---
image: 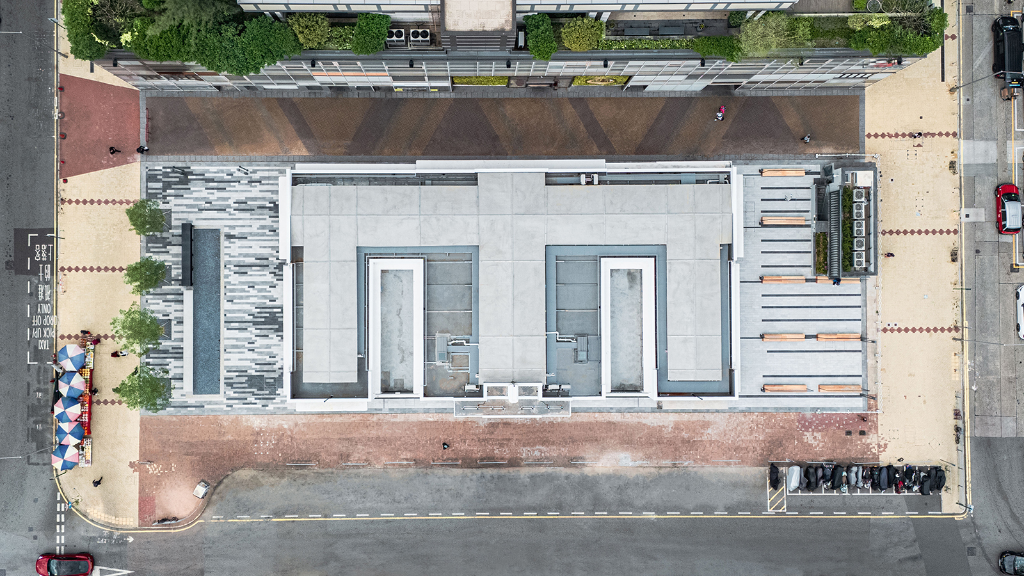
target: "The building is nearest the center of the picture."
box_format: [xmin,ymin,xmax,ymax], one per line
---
[279,160,743,418]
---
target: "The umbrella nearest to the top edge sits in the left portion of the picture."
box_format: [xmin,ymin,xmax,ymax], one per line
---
[55,344,84,371]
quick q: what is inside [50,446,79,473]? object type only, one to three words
umbrella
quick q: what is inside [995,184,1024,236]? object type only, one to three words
car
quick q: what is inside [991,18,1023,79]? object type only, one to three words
van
